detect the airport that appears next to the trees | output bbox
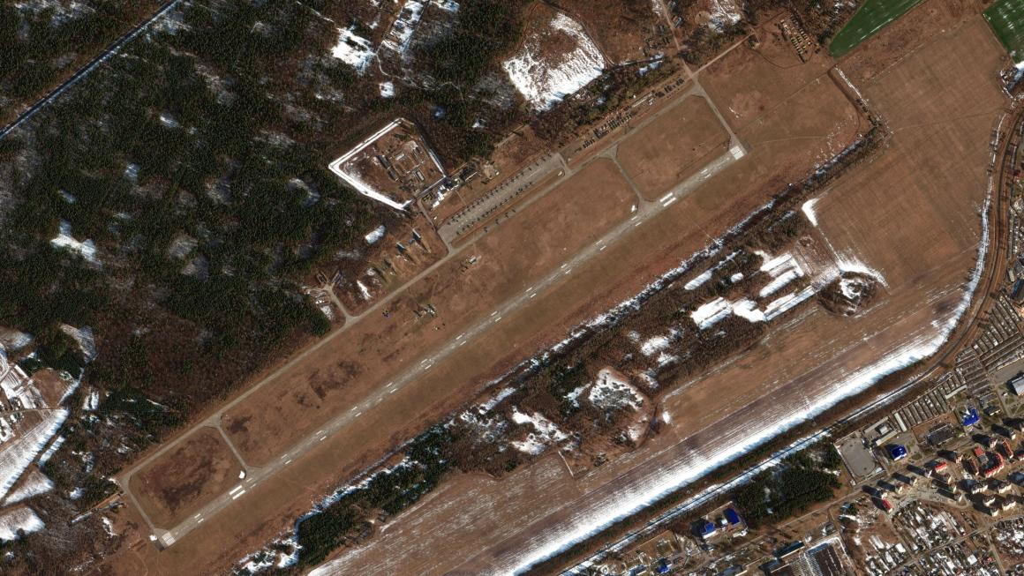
[118,79,753,550]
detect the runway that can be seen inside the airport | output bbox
[159,143,747,548]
